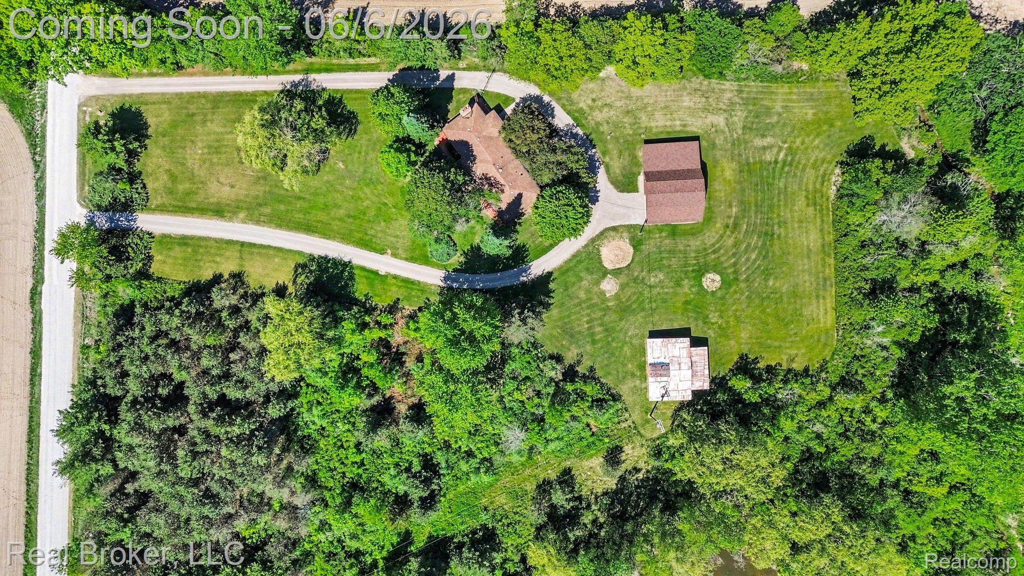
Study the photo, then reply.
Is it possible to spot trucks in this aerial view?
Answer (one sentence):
No, this view has no truck in it.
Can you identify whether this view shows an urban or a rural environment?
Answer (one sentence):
The area shown here is rural.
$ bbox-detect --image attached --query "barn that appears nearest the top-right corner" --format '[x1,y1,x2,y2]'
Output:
[643,141,705,225]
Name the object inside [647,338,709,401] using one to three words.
shed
